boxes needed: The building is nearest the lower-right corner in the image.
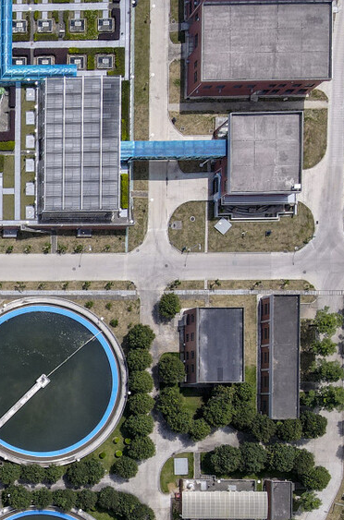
[260,481,293,520]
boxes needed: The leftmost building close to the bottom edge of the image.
[174,479,257,518]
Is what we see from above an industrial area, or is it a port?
industrial area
